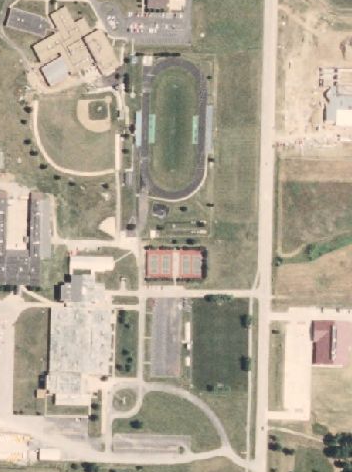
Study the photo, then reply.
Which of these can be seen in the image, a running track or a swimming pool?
running track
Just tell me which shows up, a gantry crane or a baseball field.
baseball field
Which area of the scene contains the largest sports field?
top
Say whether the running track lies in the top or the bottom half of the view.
top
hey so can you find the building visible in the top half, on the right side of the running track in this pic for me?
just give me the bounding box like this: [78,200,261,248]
[319,68,352,127]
